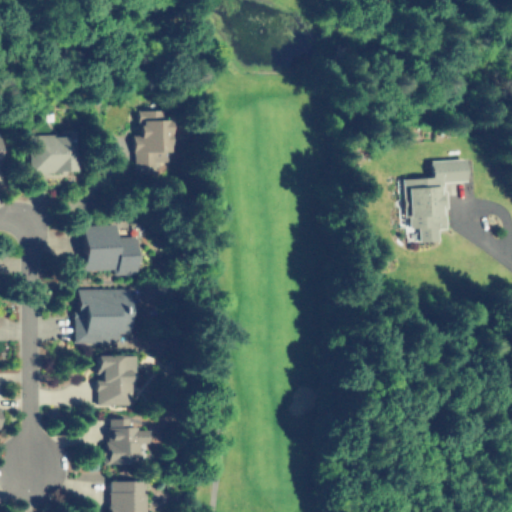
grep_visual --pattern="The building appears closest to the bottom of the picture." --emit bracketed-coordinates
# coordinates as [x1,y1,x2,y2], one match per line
[109,482,148,512]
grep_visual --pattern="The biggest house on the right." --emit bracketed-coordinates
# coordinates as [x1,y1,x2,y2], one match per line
[404,160,471,244]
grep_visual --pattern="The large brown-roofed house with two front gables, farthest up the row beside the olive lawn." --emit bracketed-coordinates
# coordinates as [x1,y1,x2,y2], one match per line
[134,110,176,168]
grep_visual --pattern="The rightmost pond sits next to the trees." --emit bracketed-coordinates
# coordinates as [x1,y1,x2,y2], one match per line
[224,0,314,68]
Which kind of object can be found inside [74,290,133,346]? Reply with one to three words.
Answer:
house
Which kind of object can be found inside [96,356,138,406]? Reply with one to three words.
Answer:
house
